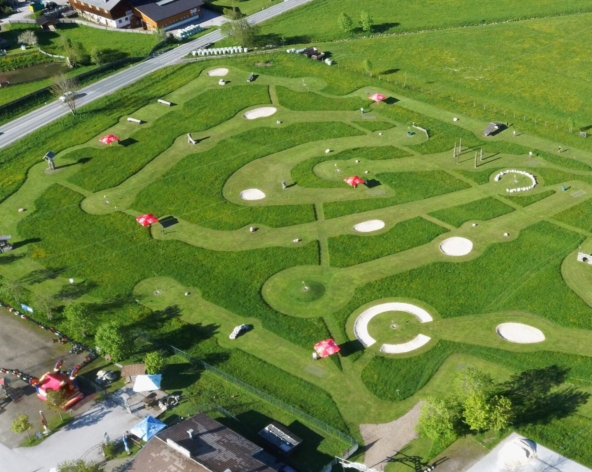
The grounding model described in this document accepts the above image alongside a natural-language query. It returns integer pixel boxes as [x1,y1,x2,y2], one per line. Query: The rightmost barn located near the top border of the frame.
[118,0,198,32]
